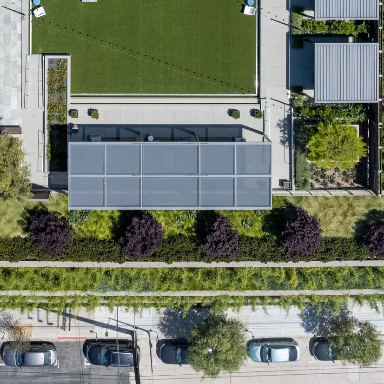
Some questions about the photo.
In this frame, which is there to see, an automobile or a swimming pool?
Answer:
automobile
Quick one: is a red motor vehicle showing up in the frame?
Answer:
No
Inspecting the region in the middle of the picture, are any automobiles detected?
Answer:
No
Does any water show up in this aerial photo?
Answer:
No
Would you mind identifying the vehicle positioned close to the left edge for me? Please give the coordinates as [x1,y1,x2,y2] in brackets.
[0,342,57,373]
